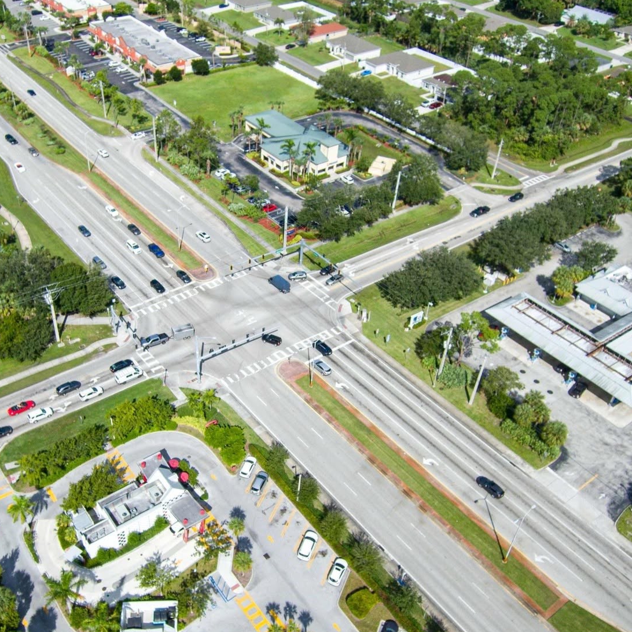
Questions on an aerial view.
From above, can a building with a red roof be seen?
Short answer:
Yes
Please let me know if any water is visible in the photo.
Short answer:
No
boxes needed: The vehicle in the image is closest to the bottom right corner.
[477,479,507,505]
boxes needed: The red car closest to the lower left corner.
[7,400,36,418]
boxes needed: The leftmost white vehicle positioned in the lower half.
[25,407,56,426]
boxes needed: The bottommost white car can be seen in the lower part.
[326,557,350,587]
